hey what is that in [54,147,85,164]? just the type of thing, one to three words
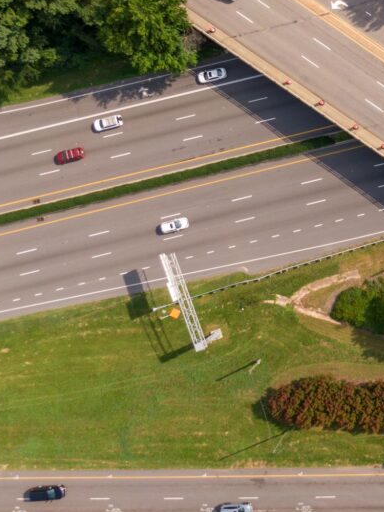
car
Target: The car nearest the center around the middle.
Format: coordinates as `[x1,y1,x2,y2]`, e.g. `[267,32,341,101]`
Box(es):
[160,217,190,234]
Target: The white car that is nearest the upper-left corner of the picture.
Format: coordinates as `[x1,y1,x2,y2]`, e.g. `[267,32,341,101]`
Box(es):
[93,114,124,131]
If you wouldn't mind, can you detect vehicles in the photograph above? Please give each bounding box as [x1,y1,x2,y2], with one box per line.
[54,147,85,164]
[160,217,190,234]
[220,503,252,512]
[29,485,63,501]
[198,67,227,84]
[93,114,124,131]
